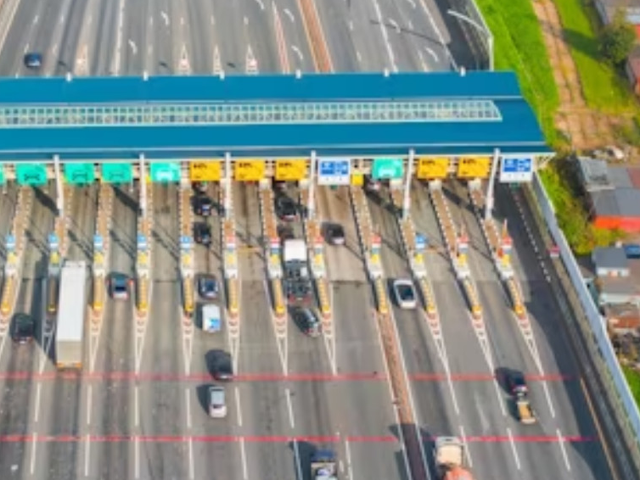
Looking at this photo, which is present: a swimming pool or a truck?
truck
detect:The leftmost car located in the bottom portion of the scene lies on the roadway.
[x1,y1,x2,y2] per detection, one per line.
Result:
[12,313,35,344]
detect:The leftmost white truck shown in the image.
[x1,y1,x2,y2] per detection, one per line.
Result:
[54,251,88,365]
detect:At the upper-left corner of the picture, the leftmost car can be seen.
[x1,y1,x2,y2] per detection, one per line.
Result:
[24,48,41,70]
